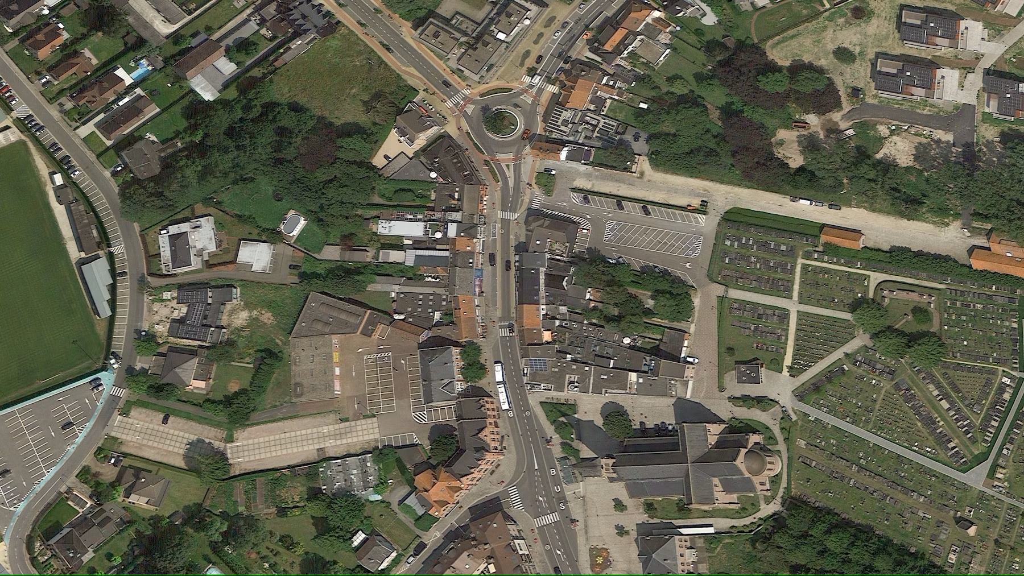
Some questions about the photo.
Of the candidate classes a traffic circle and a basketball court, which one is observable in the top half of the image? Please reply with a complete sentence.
Looking in the top half of the image, you will find a traffic circle.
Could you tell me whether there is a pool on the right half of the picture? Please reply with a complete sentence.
No, I see no pool on the right half of the picture.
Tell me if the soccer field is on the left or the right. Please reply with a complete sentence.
The soccer field is on the left side of the image.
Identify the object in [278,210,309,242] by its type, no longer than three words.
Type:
swimming pool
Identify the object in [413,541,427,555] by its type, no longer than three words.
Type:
car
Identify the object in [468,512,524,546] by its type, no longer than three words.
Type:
building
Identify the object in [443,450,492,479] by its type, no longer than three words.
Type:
house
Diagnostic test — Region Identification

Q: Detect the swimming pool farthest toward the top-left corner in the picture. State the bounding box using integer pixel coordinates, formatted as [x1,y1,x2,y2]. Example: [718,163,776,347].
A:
[131,65,156,81]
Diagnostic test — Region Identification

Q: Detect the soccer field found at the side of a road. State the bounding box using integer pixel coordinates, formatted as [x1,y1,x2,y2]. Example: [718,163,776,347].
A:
[0,142,101,394]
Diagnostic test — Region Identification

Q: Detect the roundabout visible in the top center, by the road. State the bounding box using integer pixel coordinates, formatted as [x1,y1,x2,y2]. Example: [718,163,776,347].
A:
[462,85,540,156]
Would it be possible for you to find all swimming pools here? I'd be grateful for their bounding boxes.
[199,564,226,576]
[278,210,309,242]
[131,65,156,81]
